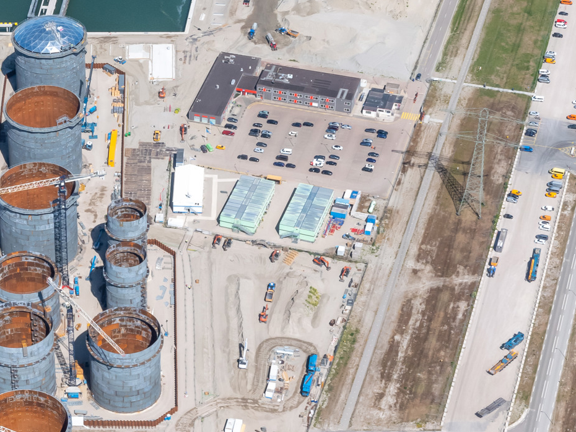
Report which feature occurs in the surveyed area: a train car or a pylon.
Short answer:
pylon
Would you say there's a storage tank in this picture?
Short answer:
Yes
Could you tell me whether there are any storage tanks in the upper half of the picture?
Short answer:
Yes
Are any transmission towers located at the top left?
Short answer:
No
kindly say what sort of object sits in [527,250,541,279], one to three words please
vehicle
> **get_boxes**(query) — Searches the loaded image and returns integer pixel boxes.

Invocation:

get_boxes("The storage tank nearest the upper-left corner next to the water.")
[10,14,86,106]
